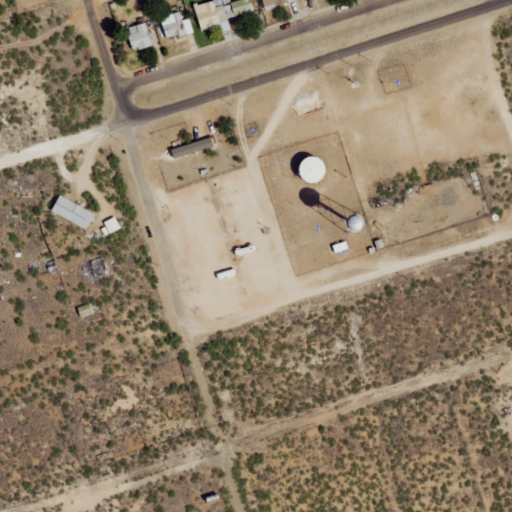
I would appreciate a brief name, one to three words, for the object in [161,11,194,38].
house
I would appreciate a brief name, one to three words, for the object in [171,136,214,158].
house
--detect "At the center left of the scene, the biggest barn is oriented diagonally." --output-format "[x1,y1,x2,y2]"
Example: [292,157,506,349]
[50,194,94,230]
